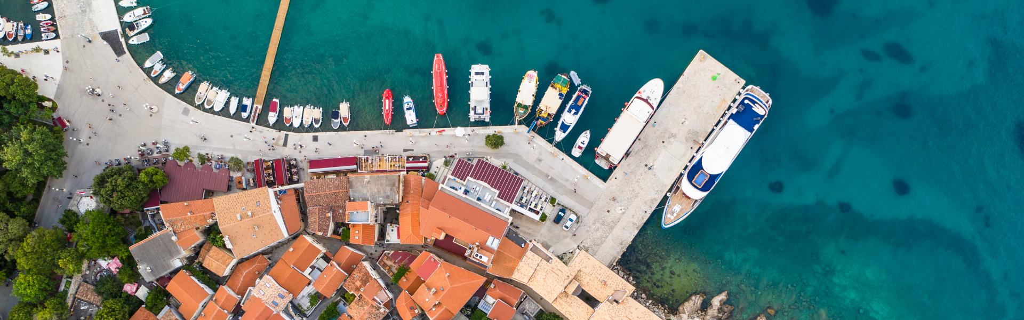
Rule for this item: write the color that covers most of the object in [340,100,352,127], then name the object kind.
white boat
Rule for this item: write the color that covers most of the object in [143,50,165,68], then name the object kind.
white boat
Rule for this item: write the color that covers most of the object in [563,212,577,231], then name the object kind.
white car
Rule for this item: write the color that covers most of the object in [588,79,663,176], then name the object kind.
white ship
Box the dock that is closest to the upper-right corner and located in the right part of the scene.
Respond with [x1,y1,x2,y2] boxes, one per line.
[582,50,745,268]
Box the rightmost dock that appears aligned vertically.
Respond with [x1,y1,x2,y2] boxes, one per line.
[248,0,290,125]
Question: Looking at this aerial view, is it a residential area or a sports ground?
residential area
